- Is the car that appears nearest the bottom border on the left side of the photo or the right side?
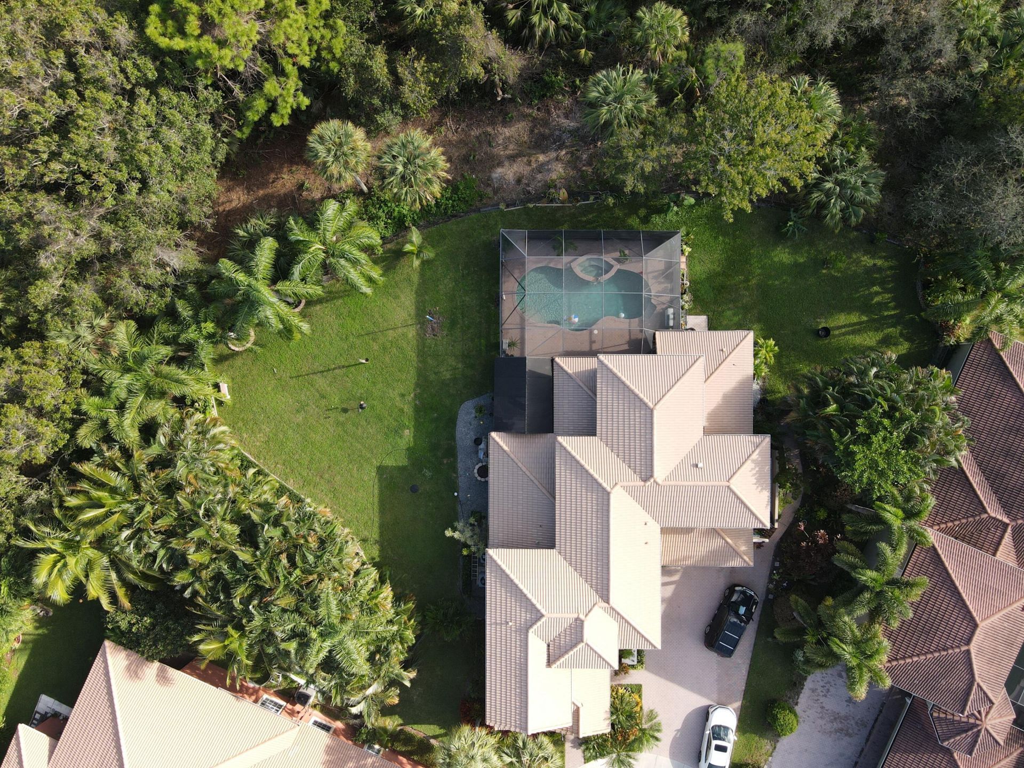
right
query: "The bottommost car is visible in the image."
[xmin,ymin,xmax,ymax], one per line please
[698,704,736,768]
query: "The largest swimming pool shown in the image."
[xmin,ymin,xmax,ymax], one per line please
[513,249,660,334]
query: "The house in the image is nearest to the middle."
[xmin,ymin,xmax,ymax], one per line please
[484,329,772,739]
